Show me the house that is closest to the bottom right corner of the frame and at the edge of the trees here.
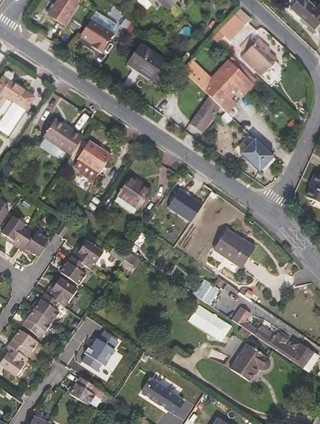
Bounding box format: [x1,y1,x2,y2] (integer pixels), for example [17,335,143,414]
[282,342,319,372]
